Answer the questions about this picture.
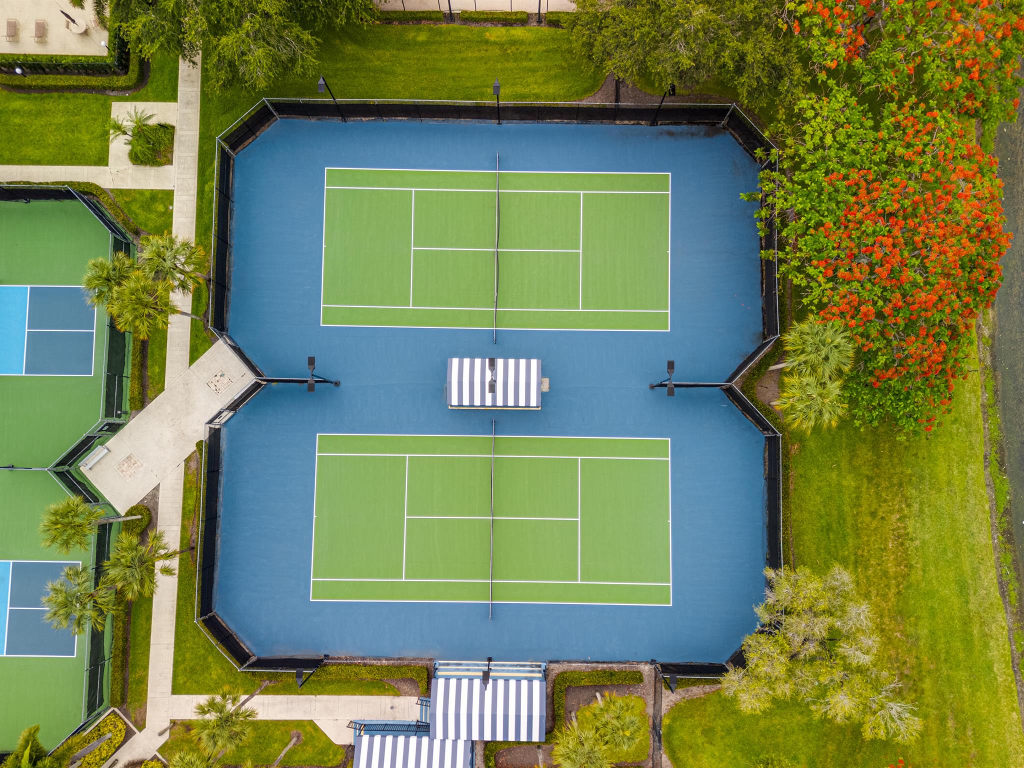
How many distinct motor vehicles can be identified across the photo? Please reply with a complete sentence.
There are no motor vehicles in the image.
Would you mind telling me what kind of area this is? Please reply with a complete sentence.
This looks like a sports ground.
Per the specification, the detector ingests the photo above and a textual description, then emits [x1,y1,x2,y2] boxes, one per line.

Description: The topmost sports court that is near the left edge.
[0,205,130,468]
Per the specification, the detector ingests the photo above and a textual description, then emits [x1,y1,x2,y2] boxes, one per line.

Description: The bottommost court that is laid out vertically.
[0,469,116,747]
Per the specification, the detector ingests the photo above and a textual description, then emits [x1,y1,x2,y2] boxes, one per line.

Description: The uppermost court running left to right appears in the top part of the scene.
[229,119,762,388]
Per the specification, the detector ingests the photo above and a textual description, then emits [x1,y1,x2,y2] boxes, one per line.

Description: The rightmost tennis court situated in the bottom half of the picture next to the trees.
[215,382,765,662]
